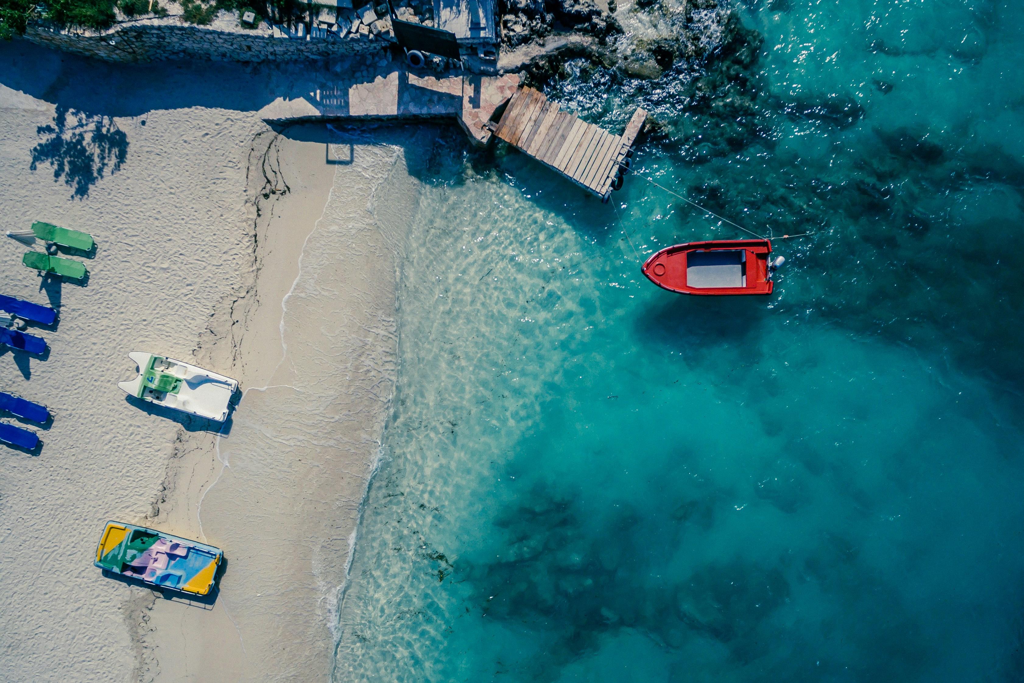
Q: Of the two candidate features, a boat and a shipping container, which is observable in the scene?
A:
boat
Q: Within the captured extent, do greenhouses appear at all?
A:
No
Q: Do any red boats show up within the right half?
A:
Yes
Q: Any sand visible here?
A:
Yes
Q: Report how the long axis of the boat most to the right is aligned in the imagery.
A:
from side to side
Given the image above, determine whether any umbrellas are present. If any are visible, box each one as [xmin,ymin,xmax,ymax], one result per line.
[0,310,25,330]
[6,231,59,257]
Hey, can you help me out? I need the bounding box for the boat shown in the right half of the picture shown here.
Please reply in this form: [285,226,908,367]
[640,239,784,296]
